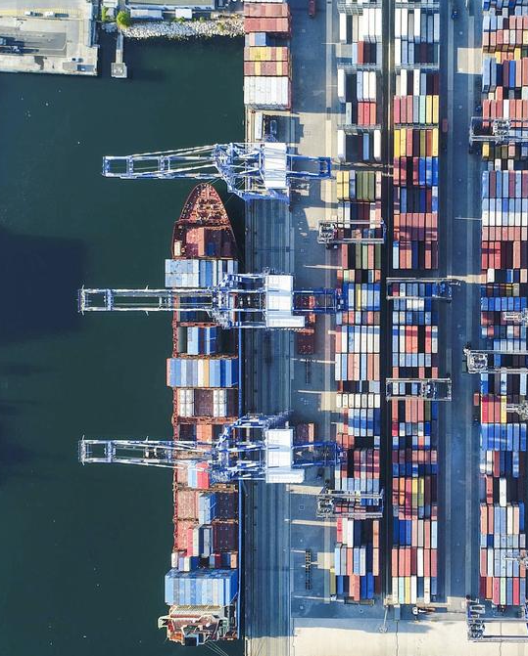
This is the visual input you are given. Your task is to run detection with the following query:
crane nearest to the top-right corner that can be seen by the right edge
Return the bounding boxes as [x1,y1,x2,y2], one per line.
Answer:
[468,116,528,154]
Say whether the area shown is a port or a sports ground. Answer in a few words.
port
